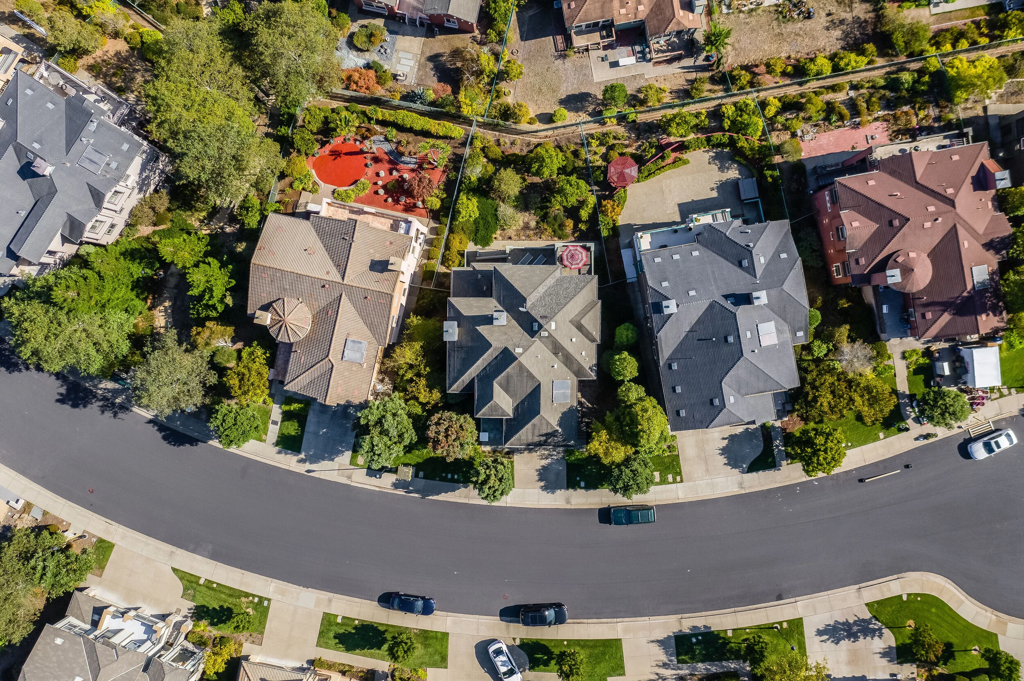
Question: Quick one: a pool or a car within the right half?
car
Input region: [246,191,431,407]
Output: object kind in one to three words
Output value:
house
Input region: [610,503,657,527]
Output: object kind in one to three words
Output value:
car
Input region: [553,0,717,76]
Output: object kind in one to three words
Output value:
house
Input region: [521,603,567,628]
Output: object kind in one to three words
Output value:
car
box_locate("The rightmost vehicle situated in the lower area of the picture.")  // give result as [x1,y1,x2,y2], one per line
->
[965,428,1018,460]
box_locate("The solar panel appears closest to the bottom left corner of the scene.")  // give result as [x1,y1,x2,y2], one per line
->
[338,338,372,365]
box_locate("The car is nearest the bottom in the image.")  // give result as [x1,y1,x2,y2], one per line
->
[490,640,524,681]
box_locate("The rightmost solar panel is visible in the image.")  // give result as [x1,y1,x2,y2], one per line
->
[972,267,993,286]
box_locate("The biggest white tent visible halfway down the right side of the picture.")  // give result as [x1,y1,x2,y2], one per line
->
[949,345,1001,388]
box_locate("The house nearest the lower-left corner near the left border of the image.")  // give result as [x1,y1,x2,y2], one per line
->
[18,588,214,681]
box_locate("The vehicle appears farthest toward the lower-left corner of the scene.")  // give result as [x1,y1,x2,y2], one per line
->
[390,590,436,616]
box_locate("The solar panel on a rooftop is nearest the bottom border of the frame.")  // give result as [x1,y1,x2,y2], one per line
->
[551,382,574,402]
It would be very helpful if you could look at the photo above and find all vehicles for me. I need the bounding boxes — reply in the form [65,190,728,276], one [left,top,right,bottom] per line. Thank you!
[610,503,657,527]
[390,590,436,616]
[521,603,567,628]
[490,640,524,681]
[965,428,1018,460]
